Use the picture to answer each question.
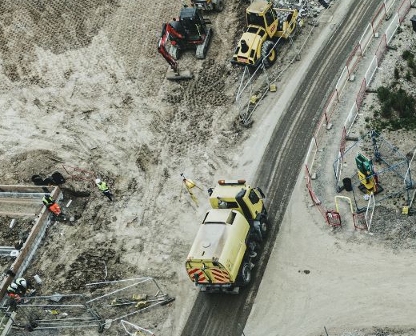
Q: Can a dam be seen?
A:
No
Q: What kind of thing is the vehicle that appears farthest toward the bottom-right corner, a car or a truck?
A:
truck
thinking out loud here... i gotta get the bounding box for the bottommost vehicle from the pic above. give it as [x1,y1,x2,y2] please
[183,176,270,303]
